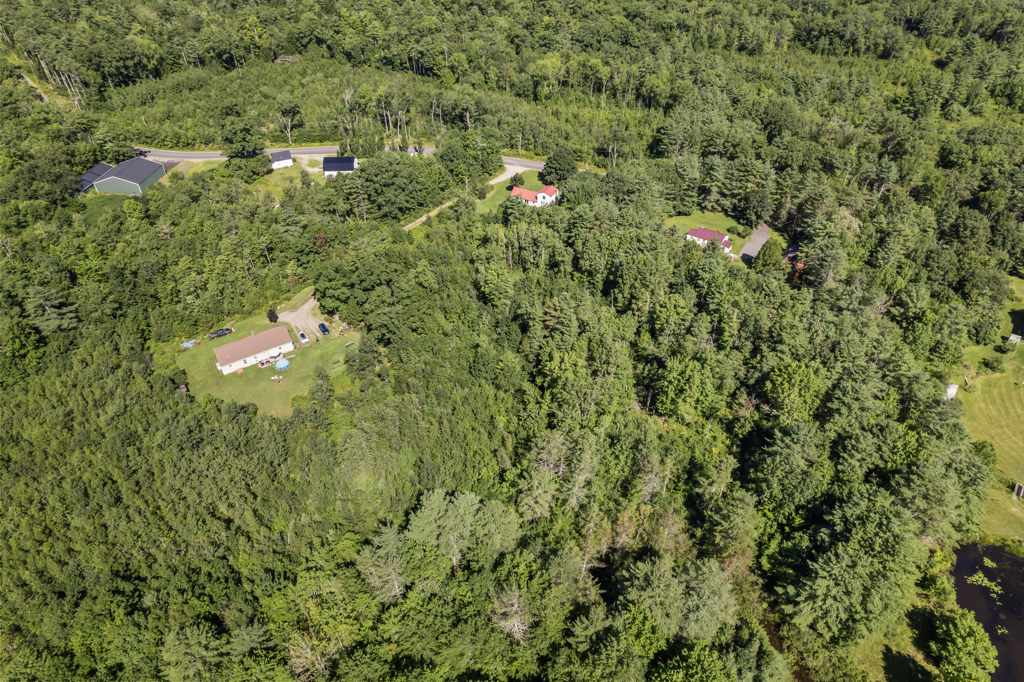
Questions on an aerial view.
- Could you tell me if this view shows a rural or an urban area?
rural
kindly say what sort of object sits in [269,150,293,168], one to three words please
house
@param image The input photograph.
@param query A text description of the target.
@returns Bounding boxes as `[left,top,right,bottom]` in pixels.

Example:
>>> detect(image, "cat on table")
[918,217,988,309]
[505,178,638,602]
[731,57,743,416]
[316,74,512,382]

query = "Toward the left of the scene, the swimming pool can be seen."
[275,358,291,372]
